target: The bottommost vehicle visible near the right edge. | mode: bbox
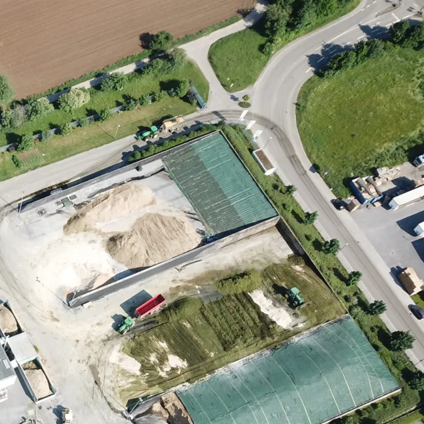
[409,303,424,319]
